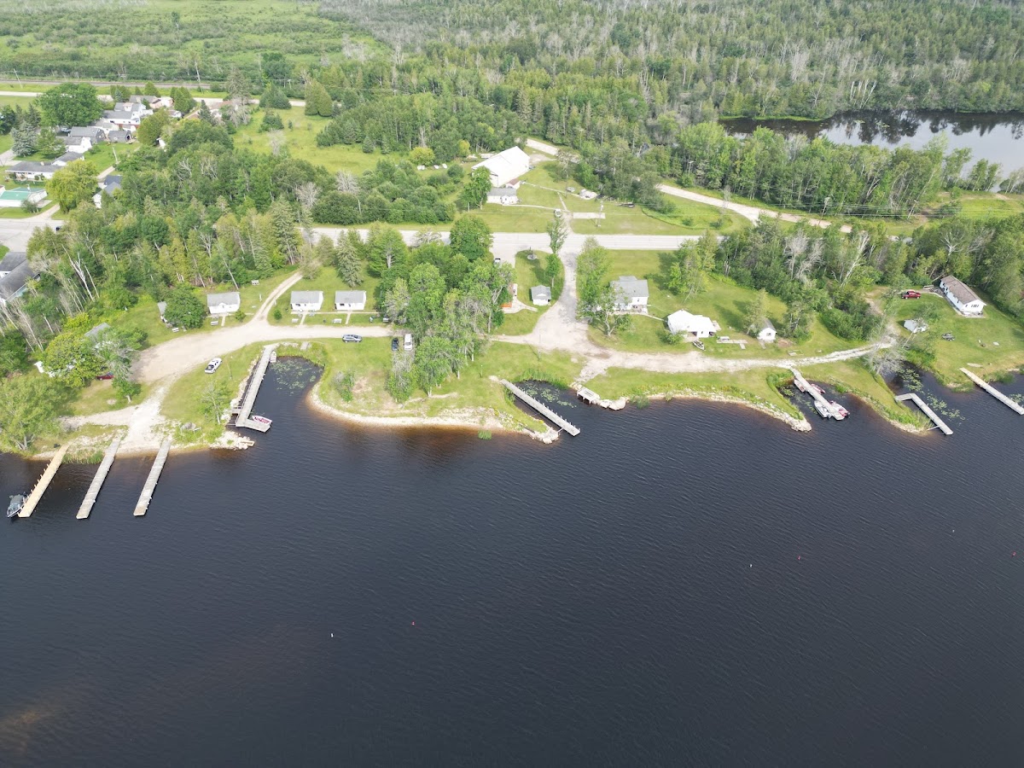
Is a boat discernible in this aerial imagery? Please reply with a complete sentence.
Yes, the frame does contain a boat.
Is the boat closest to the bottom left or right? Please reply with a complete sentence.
It is on the left.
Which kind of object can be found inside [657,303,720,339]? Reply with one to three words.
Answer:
house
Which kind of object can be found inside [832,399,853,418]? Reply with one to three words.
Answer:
boat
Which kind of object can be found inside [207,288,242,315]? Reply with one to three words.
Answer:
building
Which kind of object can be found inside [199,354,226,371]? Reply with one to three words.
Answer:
vehicle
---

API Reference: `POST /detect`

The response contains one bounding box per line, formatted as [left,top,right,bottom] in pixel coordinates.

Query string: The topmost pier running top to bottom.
[231,346,273,432]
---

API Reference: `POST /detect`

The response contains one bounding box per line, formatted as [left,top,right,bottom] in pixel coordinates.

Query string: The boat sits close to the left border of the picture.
[7,492,28,518]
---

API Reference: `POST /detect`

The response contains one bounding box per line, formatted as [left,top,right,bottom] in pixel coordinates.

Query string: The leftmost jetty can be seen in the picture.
[17,452,68,518]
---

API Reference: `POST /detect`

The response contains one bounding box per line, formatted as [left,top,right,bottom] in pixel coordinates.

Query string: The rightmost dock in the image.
[975,380,1024,415]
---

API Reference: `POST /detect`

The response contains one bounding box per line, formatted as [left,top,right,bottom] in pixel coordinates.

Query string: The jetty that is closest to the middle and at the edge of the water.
[504,378,578,434]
